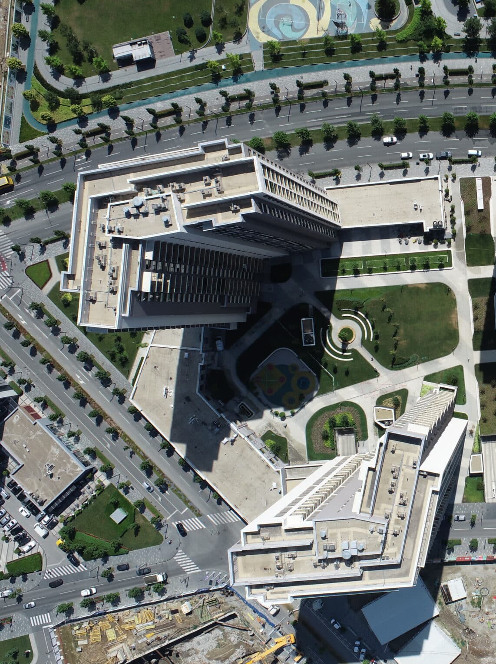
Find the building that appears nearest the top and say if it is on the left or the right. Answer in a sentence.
It is on the left.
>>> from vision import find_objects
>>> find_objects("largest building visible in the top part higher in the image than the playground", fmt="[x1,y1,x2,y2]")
[61,139,343,335]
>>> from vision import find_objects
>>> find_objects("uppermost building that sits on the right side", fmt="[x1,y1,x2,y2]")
[325,176,447,233]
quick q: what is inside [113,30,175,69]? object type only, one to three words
building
